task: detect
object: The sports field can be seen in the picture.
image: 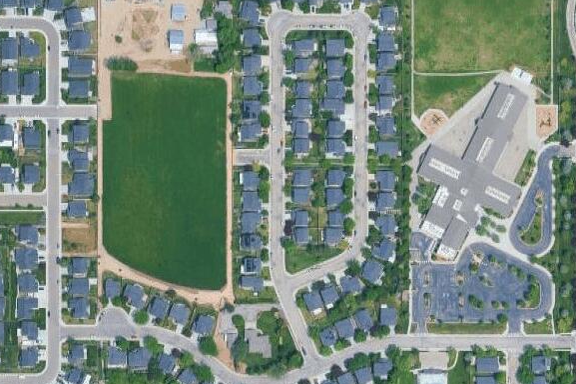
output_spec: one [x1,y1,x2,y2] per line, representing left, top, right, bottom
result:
[412,0,554,118]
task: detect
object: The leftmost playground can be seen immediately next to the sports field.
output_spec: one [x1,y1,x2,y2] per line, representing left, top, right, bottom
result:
[421,107,450,136]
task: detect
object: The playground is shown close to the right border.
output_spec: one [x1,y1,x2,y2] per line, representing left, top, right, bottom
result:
[537,105,558,140]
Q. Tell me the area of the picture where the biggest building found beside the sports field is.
right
